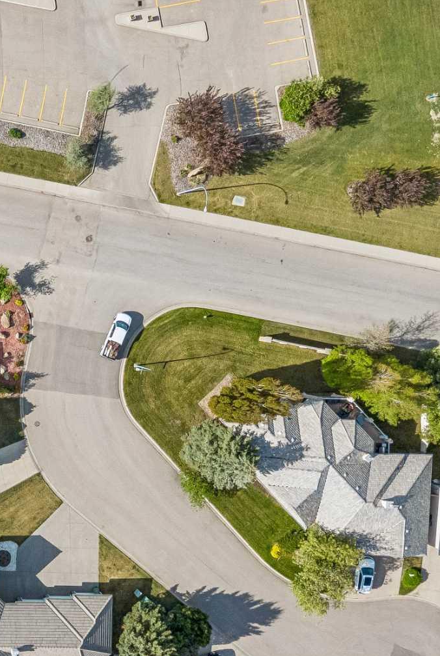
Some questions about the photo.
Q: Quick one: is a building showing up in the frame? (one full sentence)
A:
Yes, a building appears in the view.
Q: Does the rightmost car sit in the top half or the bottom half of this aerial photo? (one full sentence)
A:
The rightmost car is in the bottom half of the image.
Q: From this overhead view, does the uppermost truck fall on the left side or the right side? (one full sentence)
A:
It is on the left.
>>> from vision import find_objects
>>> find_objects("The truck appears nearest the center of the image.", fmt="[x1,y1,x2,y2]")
[101,311,133,360]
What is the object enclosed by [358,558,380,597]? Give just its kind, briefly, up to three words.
car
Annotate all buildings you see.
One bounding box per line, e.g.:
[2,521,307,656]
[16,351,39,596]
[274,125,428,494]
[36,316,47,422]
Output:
[0,588,112,656]
[233,395,434,557]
